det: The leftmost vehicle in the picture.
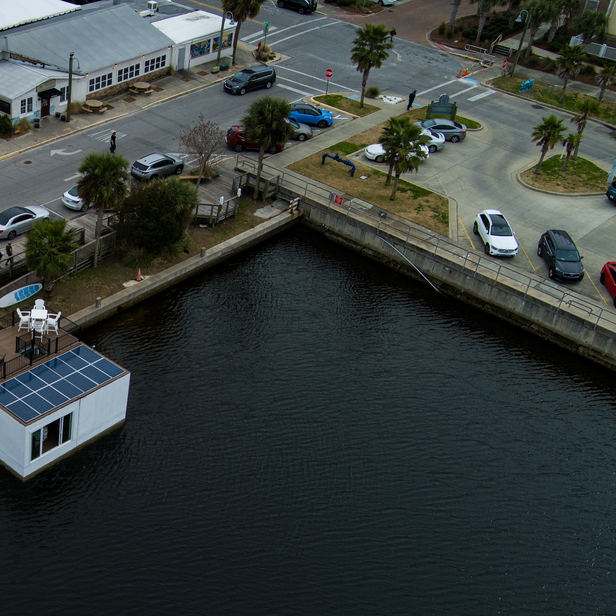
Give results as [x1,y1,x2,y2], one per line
[0,202,53,240]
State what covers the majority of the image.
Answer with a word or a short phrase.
water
